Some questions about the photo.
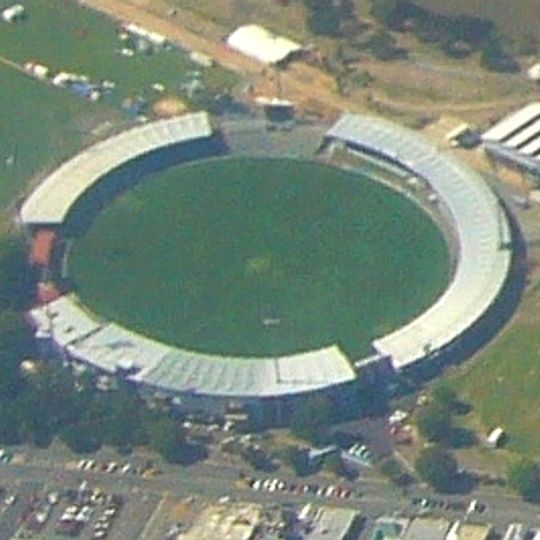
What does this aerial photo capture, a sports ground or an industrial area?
sports ground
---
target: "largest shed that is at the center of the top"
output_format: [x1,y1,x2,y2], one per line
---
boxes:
[227,26,301,67]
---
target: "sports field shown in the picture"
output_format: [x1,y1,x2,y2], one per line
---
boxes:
[54,152,456,377]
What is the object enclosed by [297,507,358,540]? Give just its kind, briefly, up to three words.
building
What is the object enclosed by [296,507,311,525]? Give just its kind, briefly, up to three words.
vehicle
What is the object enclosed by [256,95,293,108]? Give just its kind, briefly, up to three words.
shed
